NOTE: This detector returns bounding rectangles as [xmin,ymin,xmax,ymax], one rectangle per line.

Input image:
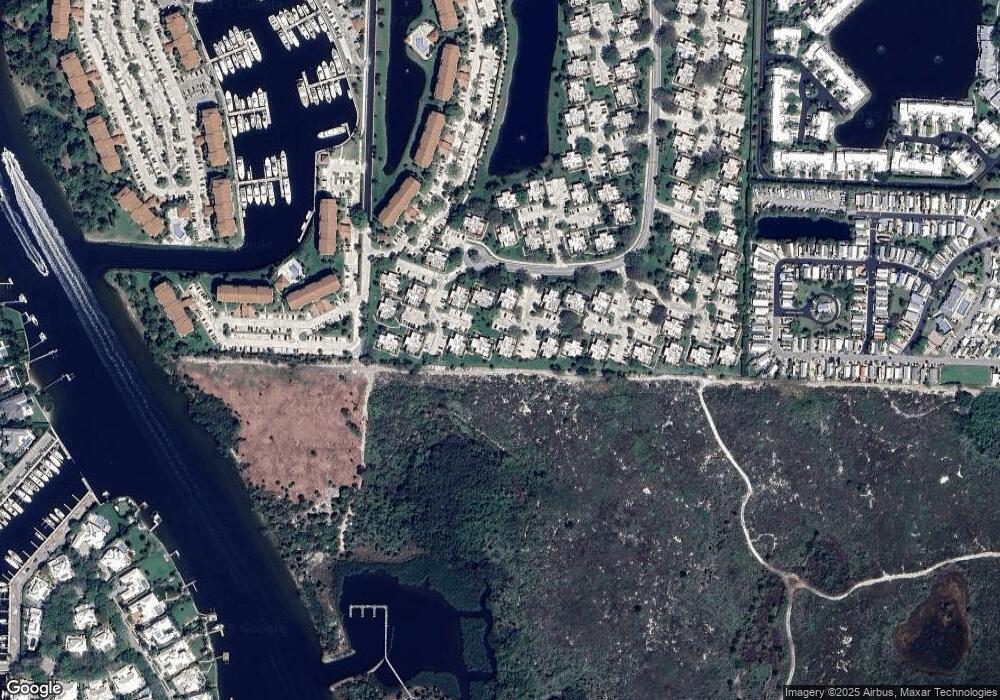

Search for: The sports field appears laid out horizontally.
[940,365,991,386]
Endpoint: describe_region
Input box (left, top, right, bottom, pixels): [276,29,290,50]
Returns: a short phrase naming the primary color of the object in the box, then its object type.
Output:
white boat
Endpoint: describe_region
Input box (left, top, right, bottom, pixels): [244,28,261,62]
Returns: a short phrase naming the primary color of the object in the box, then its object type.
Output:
white boat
